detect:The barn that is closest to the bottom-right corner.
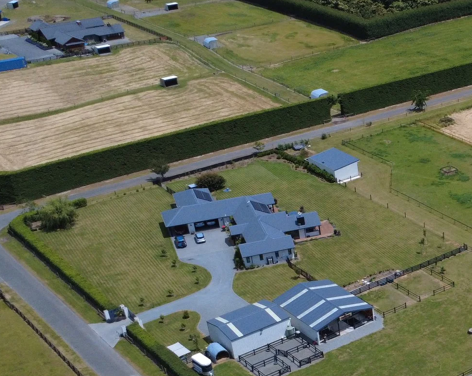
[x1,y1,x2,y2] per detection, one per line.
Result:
[273,279,374,345]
